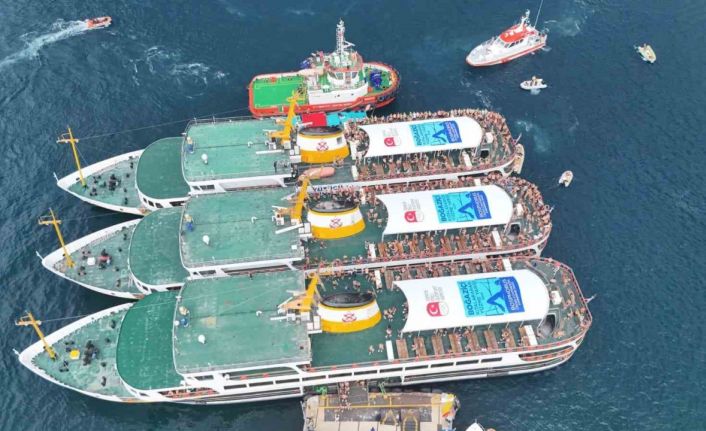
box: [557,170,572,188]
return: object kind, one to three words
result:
boat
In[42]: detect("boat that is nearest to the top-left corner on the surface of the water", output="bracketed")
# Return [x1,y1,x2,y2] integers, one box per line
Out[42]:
[82,18,112,31]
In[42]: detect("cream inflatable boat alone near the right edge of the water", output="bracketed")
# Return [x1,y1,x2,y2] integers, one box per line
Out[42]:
[635,45,657,61]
